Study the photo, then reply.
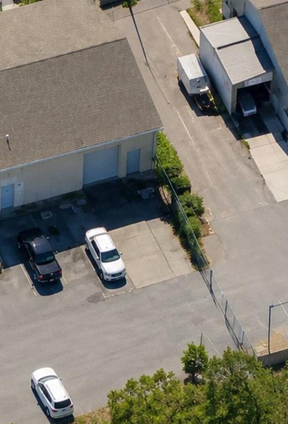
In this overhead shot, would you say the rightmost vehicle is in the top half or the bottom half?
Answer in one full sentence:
The rightmost vehicle sits in the top half of the picture.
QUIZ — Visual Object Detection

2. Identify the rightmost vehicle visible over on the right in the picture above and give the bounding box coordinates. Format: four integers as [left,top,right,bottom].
[239,85,267,117]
